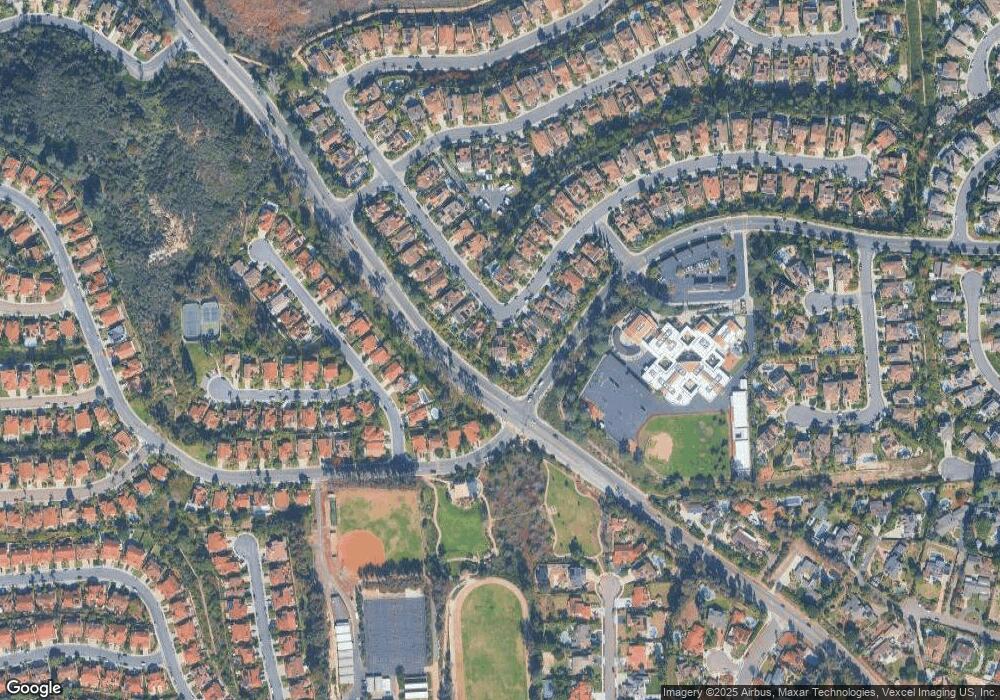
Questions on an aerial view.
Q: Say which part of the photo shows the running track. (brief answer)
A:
bottom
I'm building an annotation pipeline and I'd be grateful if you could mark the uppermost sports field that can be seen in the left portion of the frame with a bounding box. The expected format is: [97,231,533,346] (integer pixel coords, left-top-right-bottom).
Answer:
[322,487,421,592]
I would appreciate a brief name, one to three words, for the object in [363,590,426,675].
sports court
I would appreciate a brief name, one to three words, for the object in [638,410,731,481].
sports field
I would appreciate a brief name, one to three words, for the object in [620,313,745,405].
building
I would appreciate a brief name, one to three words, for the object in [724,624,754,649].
house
